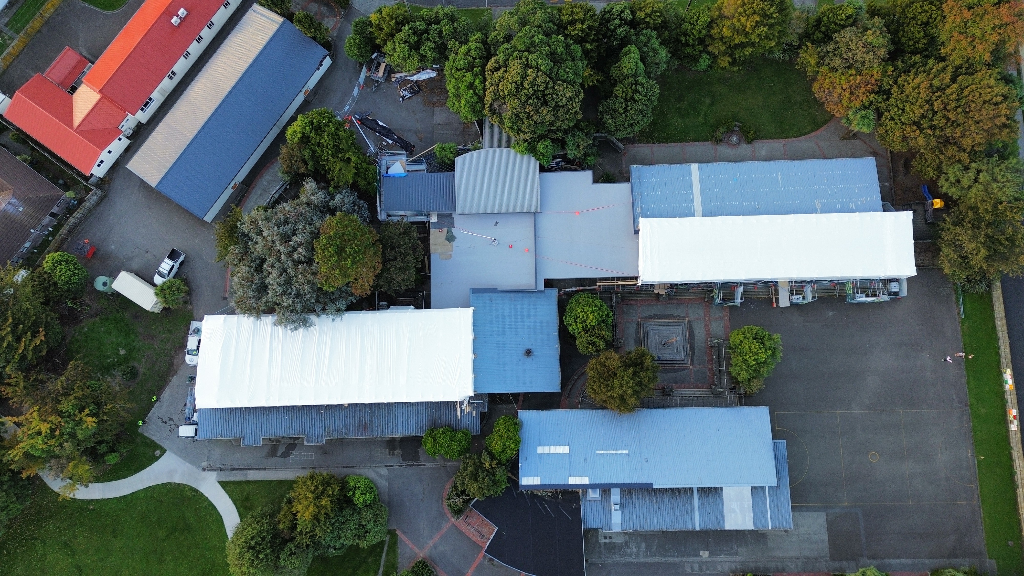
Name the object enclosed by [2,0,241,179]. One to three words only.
building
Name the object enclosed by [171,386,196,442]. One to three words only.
truck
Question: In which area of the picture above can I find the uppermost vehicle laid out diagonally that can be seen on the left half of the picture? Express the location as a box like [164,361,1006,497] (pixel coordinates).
[152,246,186,284]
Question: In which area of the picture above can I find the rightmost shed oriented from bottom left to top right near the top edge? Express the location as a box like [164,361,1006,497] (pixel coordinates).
[126,4,331,221]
